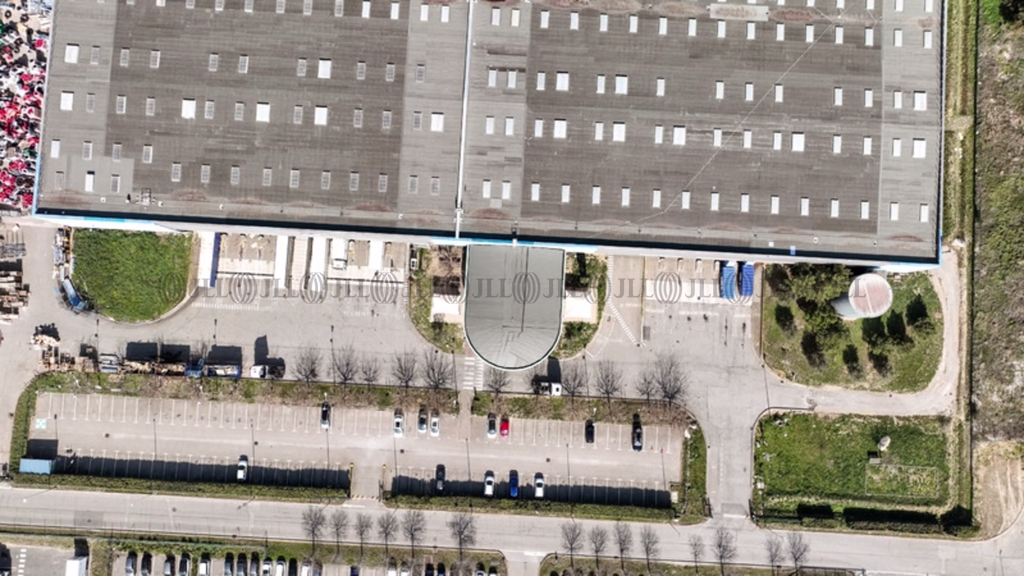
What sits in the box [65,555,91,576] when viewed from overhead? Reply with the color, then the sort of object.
white truck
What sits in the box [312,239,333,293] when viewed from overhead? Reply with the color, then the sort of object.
white trailer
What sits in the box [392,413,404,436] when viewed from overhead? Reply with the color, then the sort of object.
white vehicle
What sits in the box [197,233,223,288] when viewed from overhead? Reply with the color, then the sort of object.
white trailer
